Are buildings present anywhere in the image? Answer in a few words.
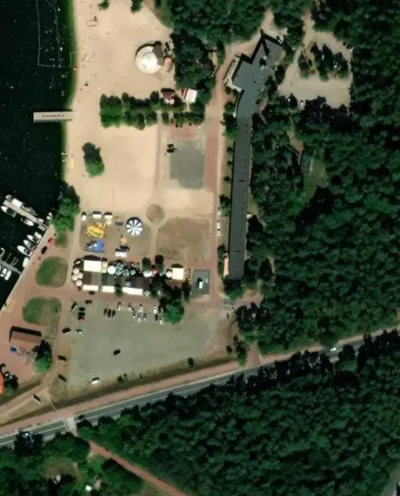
Yes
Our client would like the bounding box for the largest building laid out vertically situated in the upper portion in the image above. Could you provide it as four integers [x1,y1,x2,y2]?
[227,38,282,280]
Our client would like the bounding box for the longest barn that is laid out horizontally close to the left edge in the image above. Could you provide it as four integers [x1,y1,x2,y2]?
[9,330,42,350]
